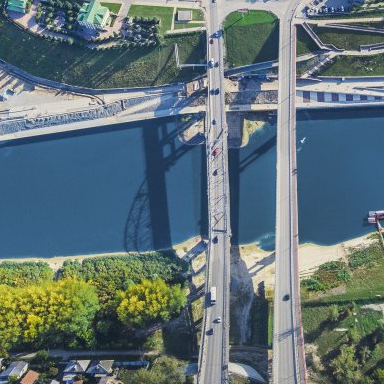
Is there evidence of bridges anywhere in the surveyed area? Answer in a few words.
Yes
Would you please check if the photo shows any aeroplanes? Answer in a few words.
No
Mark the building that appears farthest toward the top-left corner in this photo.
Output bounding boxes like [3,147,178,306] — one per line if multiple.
[4,0,31,17]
